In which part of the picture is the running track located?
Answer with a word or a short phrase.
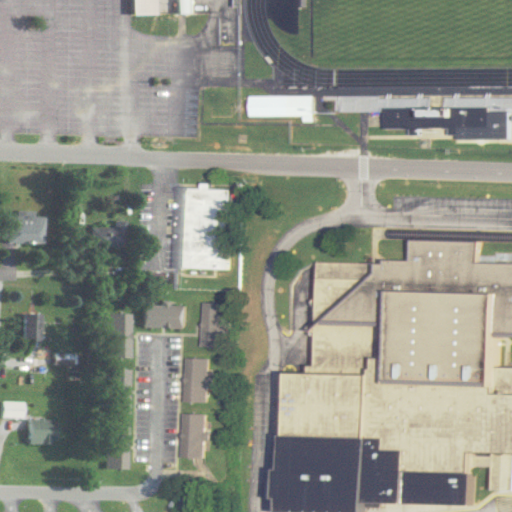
top right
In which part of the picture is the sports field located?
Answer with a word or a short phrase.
top right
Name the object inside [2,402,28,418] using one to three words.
building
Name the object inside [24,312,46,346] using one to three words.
house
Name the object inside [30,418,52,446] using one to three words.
house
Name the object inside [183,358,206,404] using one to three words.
building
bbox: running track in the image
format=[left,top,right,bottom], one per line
[244,0,512,96]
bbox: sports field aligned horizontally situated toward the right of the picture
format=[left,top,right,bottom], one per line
[266,0,512,70]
